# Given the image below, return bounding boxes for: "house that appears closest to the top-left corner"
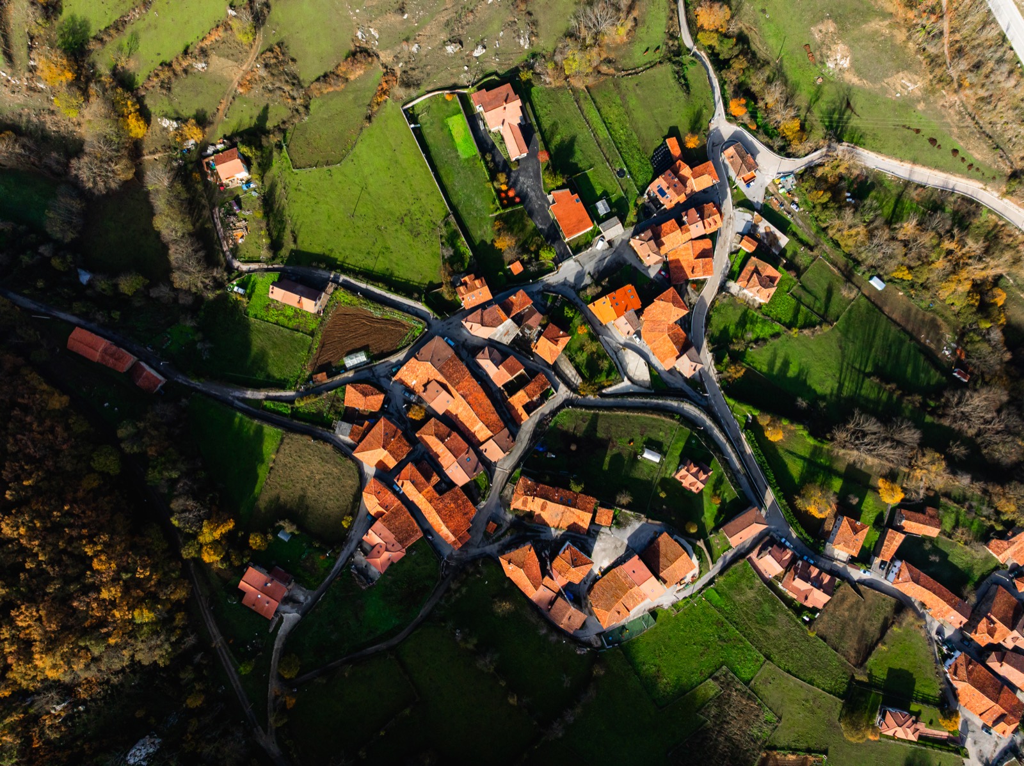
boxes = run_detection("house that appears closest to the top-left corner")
[214,148,249,186]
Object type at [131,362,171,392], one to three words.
shed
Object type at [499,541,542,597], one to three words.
house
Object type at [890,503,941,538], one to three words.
barn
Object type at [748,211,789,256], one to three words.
building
